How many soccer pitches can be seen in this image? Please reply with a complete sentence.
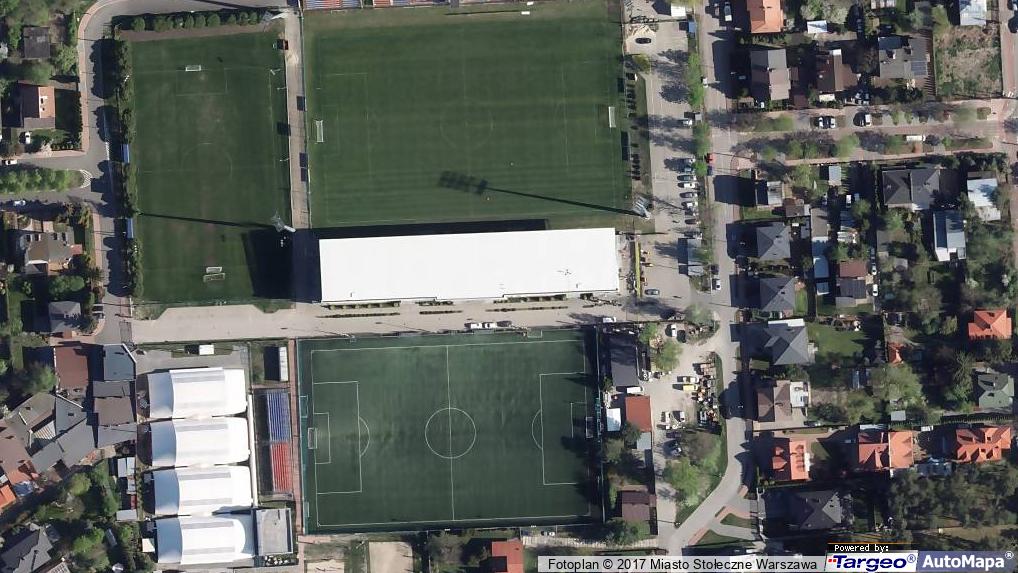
The photo contains 3 soccer pitches.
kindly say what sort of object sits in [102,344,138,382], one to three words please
building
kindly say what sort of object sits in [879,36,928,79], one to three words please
house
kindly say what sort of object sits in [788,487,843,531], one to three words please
house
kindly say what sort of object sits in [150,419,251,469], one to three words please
building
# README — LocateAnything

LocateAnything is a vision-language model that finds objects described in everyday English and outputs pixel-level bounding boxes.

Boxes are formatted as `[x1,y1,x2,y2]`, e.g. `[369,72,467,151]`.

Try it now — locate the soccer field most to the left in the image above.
[129,30,291,304]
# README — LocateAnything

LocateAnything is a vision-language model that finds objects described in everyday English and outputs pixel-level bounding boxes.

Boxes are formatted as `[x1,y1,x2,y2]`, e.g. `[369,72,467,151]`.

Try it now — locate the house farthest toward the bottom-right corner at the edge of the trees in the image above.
[955,426,1011,462]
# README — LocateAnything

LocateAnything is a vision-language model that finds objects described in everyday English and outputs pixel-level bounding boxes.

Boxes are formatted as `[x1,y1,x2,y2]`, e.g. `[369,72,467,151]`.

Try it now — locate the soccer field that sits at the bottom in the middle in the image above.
[297,327,605,533]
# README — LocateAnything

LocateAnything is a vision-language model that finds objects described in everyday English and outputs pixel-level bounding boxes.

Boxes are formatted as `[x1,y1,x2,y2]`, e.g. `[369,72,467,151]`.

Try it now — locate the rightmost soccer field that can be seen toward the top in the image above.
[312,21,630,229]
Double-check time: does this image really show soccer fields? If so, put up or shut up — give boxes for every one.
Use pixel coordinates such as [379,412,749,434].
[297,327,605,533]
[129,30,291,304]
[312,21,630,229]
